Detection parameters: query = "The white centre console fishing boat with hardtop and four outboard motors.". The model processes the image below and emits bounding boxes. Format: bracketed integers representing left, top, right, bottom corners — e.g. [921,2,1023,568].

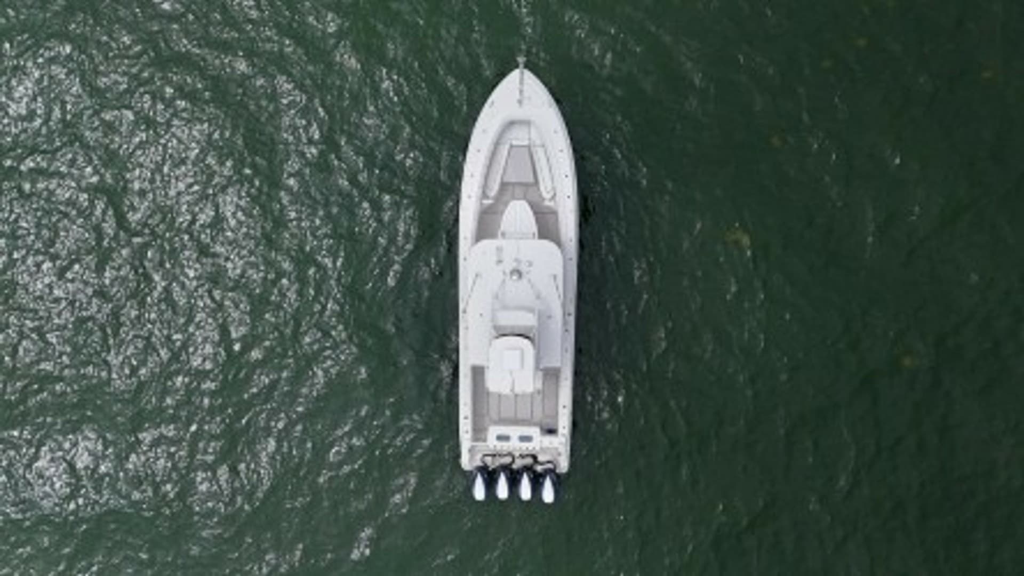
[459,63,579,503]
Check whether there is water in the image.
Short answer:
Yes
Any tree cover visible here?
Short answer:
No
